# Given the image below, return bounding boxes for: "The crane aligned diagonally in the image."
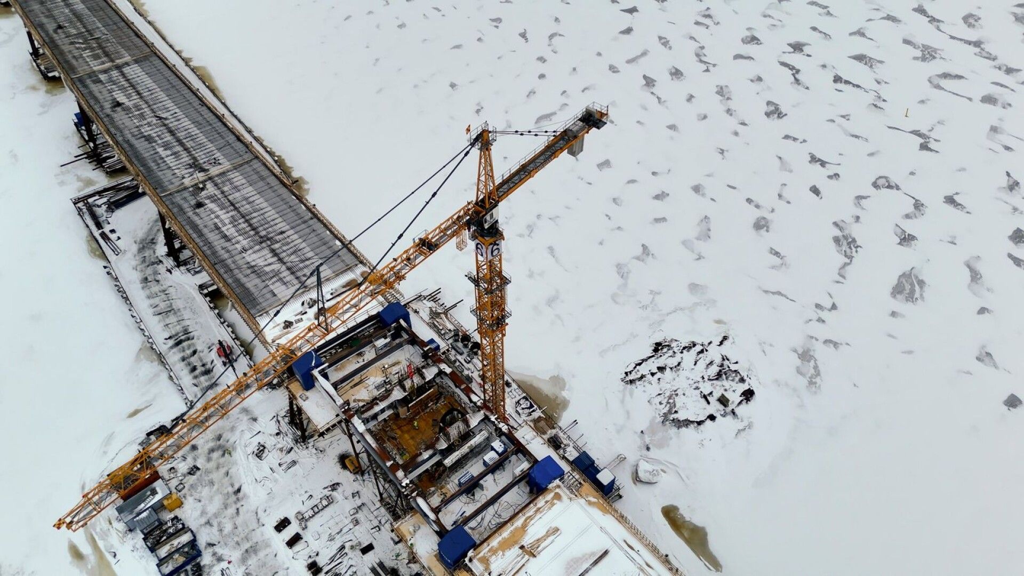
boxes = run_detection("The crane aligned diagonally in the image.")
[39,106,614,538]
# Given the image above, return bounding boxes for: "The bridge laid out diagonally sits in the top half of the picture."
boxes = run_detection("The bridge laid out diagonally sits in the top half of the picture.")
[0,0,411,408]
